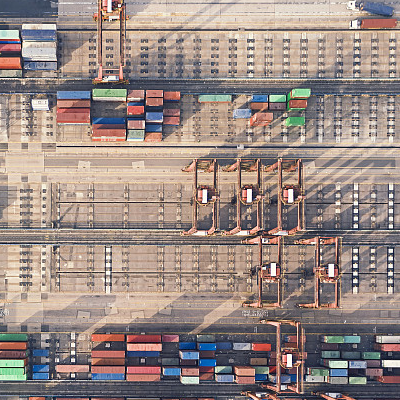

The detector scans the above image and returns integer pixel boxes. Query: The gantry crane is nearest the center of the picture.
[183,159,223,237]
